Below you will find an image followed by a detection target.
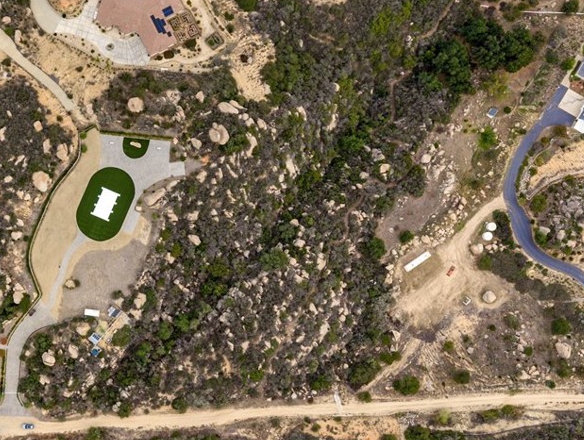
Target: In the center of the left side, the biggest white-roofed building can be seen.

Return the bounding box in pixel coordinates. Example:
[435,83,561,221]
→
[91,187,120,222]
